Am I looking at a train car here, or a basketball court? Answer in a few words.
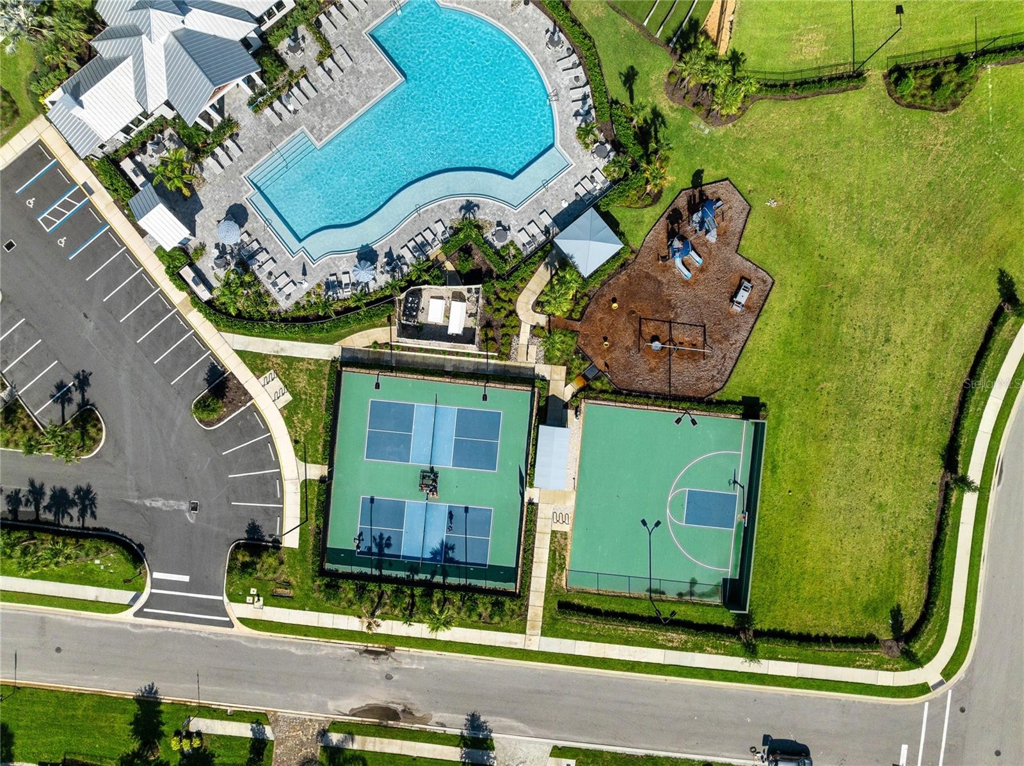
basketball court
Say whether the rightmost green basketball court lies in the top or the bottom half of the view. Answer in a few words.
bottom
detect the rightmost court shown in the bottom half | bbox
[568,403,758,602]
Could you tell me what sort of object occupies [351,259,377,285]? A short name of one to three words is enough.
umbrella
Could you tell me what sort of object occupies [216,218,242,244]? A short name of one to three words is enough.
umbrella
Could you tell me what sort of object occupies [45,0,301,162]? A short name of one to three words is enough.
building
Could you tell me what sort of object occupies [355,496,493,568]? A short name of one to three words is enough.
sports court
